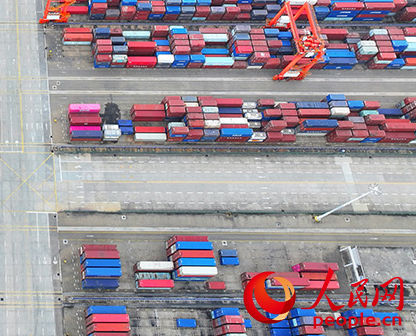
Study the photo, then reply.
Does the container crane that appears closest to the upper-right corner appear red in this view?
Yes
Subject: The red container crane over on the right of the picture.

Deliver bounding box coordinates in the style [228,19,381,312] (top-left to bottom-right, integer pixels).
[262,0,329,77]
